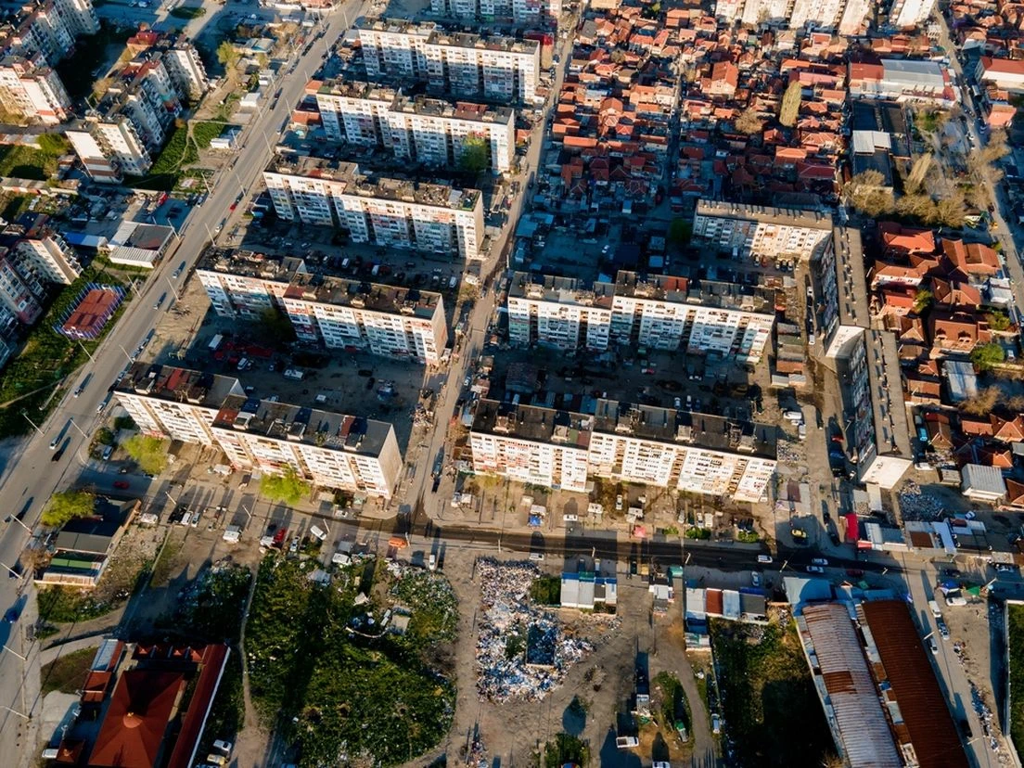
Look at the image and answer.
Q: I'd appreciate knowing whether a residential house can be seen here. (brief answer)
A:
Yes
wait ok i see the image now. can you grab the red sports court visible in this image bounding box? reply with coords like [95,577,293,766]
[60,287,121,337]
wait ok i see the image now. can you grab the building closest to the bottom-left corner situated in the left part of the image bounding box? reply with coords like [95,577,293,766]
[49,732,97,768]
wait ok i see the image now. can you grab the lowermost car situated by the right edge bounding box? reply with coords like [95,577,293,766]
[959,717,975,739]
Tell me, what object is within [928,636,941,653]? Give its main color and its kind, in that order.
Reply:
gray vehicle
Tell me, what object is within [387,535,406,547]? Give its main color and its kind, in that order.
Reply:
orange vehicle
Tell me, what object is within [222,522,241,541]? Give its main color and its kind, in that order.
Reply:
white vehicle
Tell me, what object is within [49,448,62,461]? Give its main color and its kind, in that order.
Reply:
black vehicle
